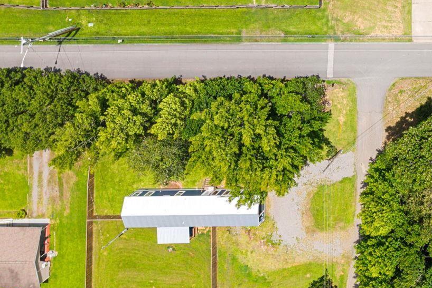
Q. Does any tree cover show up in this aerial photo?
Yes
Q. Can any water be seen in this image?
No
